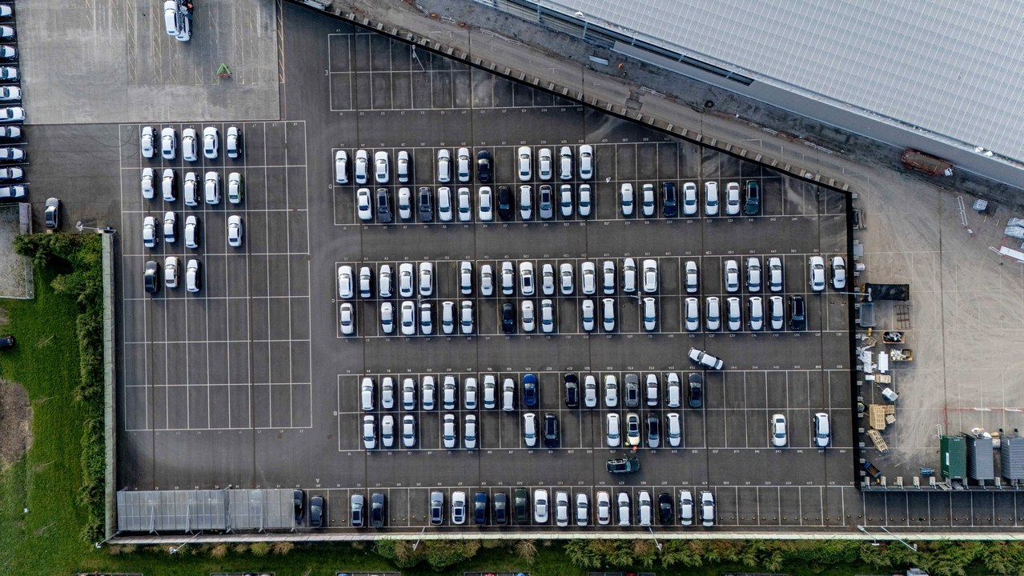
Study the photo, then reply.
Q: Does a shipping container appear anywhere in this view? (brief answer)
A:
Yes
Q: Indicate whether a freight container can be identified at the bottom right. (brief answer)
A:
Yes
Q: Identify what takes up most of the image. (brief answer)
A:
paved ground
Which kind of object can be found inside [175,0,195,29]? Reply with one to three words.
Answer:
vehicle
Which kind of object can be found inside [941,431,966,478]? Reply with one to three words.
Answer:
shipping container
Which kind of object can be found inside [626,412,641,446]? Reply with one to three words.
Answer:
car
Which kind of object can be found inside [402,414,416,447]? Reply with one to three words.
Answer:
car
